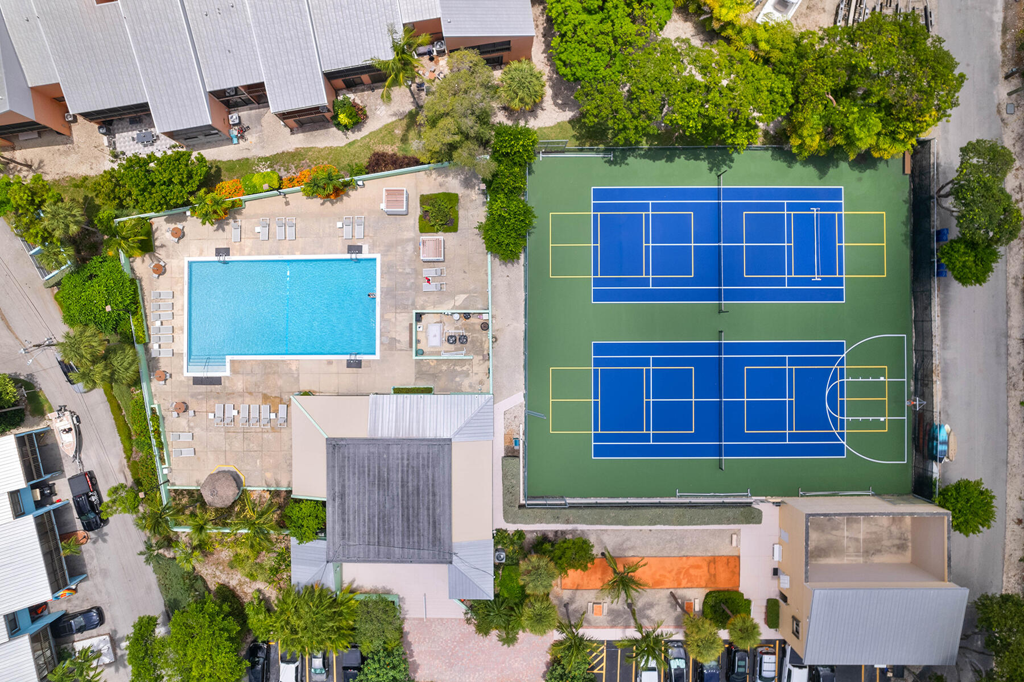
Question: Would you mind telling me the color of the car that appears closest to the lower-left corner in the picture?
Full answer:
From above, the car that appears closest to the lower-left corner appears black.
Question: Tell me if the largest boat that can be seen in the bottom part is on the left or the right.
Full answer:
The largest boat that can be seen in the bottom part sits on the left side.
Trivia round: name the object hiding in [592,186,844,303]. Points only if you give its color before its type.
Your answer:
blue tennis court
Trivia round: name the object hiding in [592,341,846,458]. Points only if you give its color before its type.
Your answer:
blue tennis court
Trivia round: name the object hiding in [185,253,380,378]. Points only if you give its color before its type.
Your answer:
blue swimming pool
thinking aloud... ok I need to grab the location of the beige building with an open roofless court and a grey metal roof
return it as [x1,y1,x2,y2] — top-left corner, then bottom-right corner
[778,499,969,665]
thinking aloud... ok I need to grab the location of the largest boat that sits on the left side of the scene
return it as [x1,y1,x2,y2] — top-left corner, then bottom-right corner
[44,404,73,459]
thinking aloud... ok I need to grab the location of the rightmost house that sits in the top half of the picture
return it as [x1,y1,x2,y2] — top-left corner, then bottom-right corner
[443,0,535,59]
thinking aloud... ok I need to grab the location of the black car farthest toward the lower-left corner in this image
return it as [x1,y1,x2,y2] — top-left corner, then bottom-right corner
[52,604,107,637]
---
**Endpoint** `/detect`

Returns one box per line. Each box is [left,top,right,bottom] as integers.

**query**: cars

[52,349,89,395]
[275,638,302,682]
[66,470,106,533]
[635,645,662,682]
[52,604,107,637]
[306,648,330,682]
[753,645,780,682]
[697,653,723,682]
[783,646,810,682]
[665,643,690,682]
[812,664,838,682]
[726,646,750,682]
